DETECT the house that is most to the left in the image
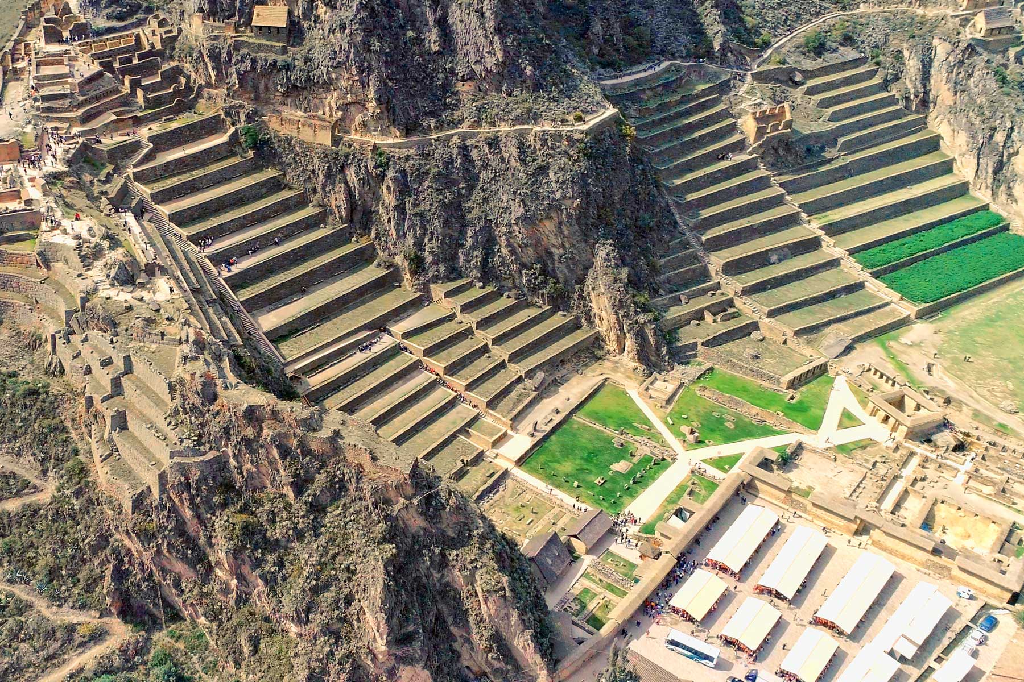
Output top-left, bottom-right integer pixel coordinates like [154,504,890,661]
[252,2,290,53]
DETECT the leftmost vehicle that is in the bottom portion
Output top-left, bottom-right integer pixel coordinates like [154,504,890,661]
[658,625,725,672]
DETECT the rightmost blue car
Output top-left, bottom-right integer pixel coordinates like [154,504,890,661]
[981,611,1001,634]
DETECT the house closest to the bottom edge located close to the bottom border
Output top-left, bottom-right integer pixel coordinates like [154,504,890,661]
[626,649,687,682]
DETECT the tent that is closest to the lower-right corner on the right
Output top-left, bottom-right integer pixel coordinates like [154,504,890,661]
[935,644,977,682]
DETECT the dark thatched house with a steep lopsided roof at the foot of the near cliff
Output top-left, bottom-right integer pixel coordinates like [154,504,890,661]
[521,532,573,586]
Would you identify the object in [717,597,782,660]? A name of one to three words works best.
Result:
tent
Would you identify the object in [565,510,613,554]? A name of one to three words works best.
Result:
house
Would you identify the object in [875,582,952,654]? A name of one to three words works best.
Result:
tent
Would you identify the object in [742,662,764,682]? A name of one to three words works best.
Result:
car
